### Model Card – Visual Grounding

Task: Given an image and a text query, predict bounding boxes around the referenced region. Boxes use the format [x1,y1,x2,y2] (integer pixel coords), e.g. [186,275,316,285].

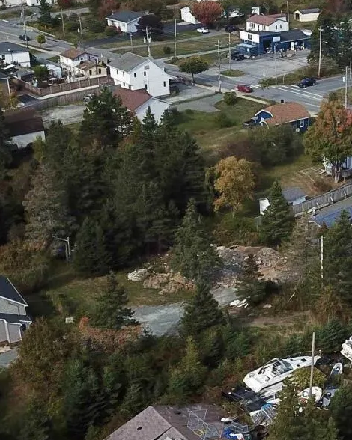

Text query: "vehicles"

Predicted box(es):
[196,26,210,32]
[298,78,316,88]
[228,50,247,59]
[19,35,30,41]
[235,84,251,92]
